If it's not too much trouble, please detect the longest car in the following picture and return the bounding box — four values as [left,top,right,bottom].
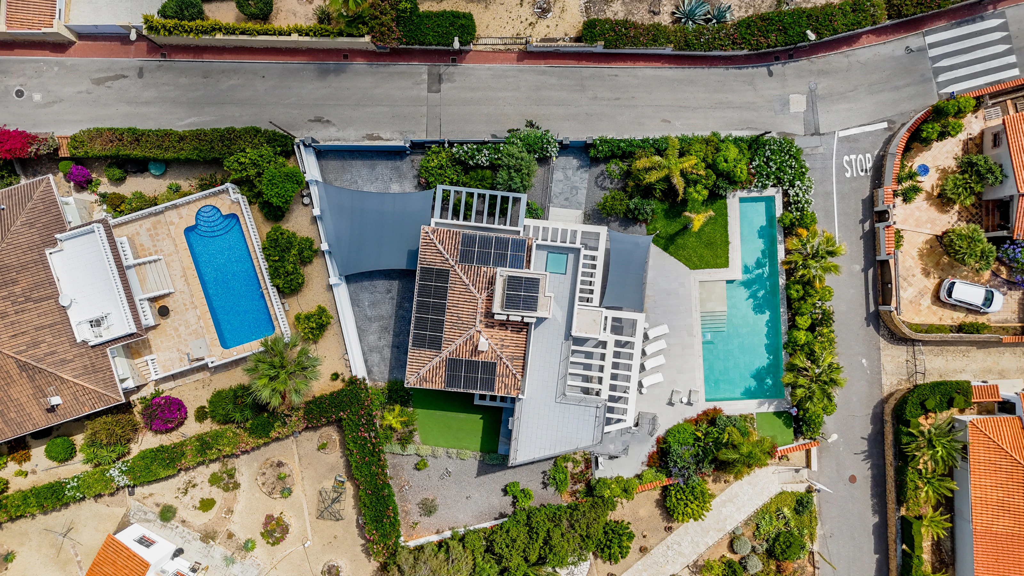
[936,278,1002,314]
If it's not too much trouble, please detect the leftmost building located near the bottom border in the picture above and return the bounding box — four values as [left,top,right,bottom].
[81,521,212,576]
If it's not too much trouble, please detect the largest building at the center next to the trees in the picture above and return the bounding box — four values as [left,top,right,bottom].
[403,185,646,470]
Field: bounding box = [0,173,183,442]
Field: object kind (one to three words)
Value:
house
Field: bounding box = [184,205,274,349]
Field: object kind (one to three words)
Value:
swimming pool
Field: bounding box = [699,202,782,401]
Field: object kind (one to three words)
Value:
swimming pool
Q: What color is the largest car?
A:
white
